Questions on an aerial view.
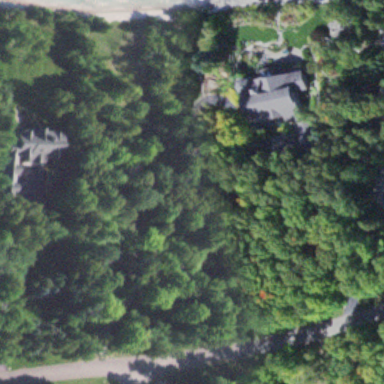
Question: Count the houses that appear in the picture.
2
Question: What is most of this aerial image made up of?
trees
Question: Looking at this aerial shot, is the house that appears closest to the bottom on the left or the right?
left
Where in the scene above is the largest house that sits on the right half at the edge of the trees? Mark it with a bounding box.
[244,68,310,124]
